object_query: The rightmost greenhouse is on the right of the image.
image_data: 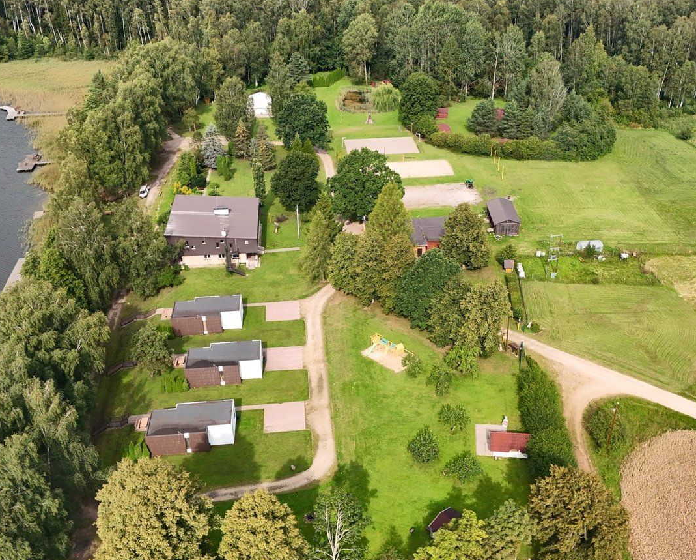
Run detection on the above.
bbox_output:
[572,235,603,251]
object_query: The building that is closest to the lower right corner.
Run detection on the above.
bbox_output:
[488,422,534,459]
